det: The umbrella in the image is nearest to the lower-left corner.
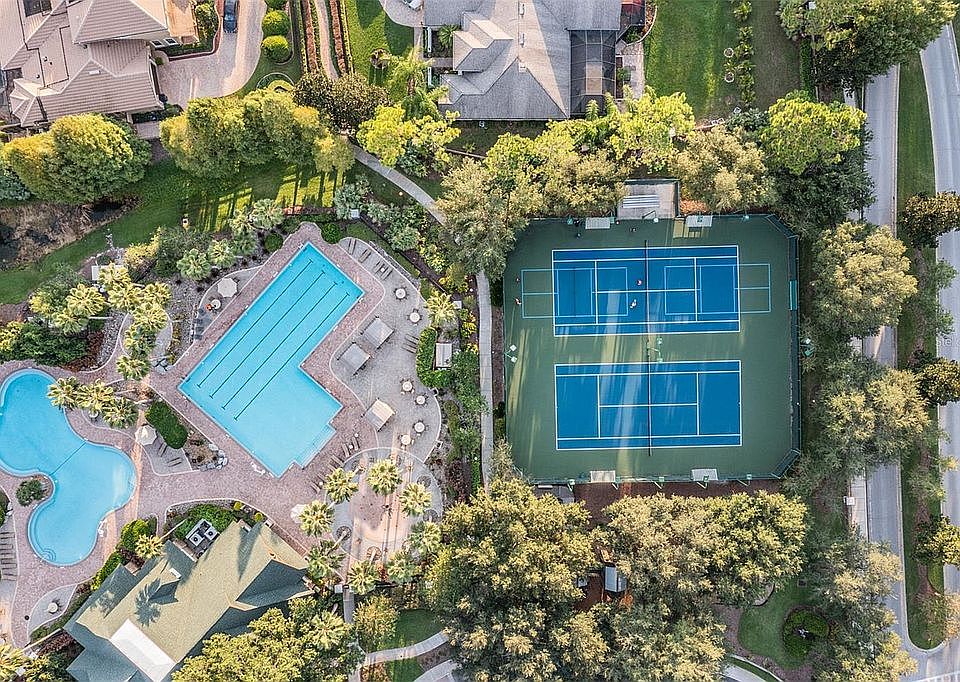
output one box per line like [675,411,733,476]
[134,424,157,447]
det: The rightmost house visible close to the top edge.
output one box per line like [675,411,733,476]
[424,0,620,123]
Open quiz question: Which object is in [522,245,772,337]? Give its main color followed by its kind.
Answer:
blue tennis court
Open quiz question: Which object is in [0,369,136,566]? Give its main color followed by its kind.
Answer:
blue swimming pool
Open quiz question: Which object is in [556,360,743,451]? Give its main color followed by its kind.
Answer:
blue tennis court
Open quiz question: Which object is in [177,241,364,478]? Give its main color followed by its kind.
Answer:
blue swimming pool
